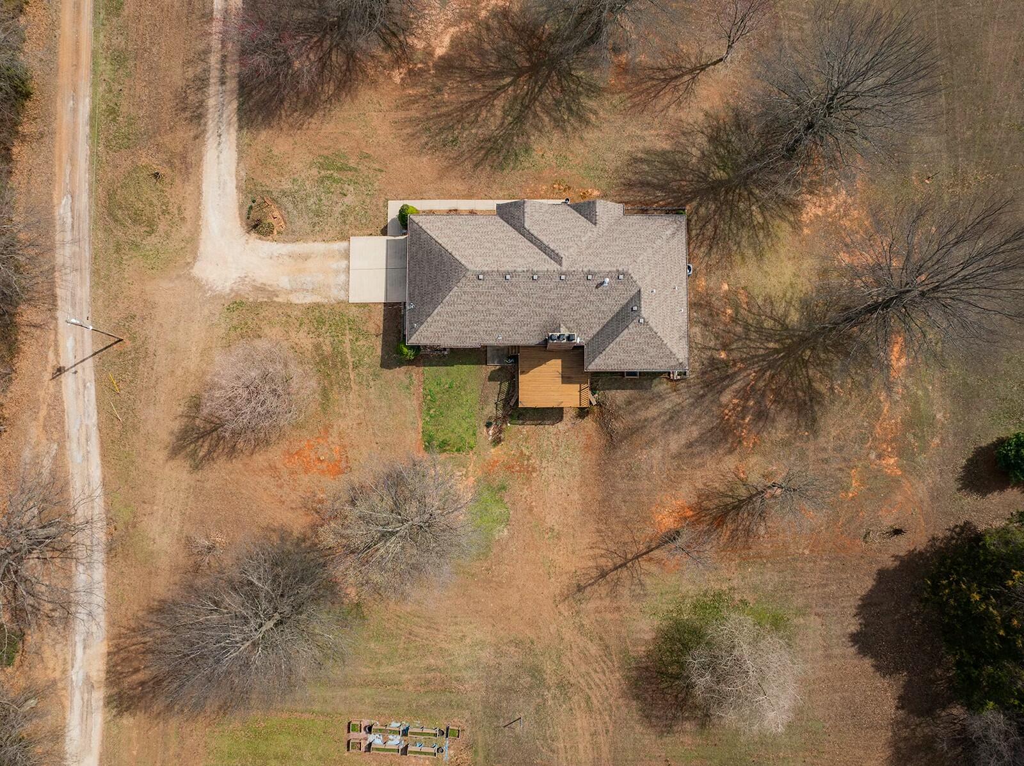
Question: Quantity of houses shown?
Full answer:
I count 1 house.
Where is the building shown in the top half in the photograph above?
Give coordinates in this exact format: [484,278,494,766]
[406,198,690,373]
